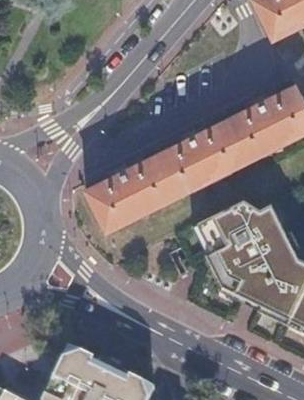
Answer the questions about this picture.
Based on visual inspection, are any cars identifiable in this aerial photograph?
Yes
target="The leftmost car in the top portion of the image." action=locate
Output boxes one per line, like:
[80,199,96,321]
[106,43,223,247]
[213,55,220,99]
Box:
[105,52,123,72]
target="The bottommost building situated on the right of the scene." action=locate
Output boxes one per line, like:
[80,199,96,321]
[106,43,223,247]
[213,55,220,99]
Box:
[193,201,304,336]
